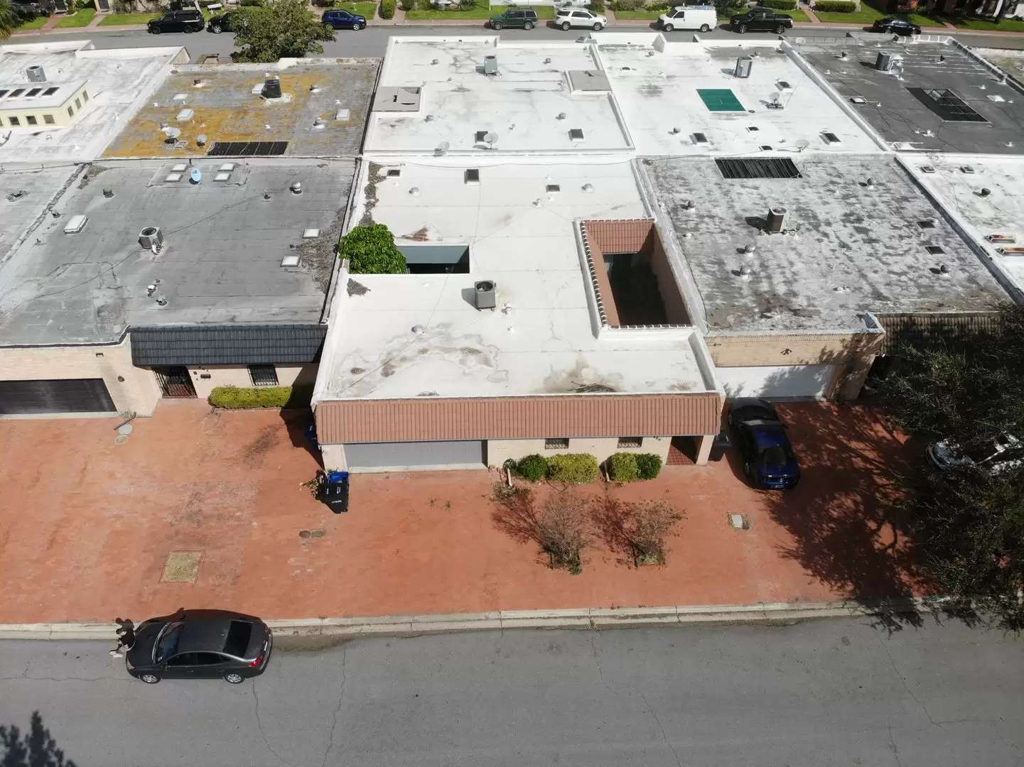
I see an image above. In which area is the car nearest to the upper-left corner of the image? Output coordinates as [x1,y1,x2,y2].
[146,5,208,34]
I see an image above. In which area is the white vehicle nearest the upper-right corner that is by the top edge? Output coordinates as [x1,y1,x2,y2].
[656,0,719,31]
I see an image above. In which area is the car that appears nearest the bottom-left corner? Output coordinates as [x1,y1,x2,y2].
[117,610,272,683]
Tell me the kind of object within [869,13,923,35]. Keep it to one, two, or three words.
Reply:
car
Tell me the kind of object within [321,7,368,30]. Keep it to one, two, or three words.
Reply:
car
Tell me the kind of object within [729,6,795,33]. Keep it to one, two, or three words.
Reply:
truck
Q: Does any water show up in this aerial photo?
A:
No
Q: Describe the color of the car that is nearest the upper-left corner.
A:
black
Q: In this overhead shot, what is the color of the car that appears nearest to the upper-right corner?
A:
black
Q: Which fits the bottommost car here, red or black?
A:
black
